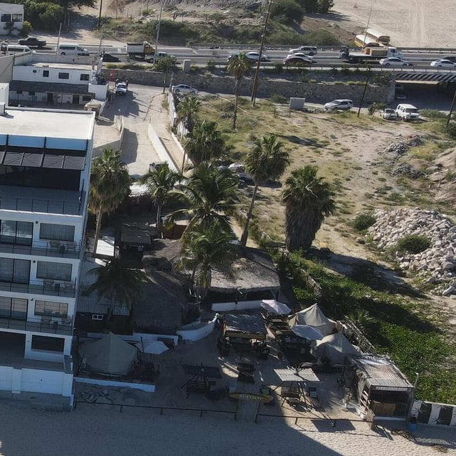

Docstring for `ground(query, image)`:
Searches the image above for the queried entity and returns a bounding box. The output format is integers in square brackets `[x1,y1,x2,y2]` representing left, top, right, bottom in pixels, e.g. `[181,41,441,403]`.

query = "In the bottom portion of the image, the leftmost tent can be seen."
[72,321,149,382]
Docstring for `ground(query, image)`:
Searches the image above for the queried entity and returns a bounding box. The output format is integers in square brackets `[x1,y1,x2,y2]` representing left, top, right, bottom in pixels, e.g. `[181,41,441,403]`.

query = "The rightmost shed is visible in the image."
[347,359,414,415]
